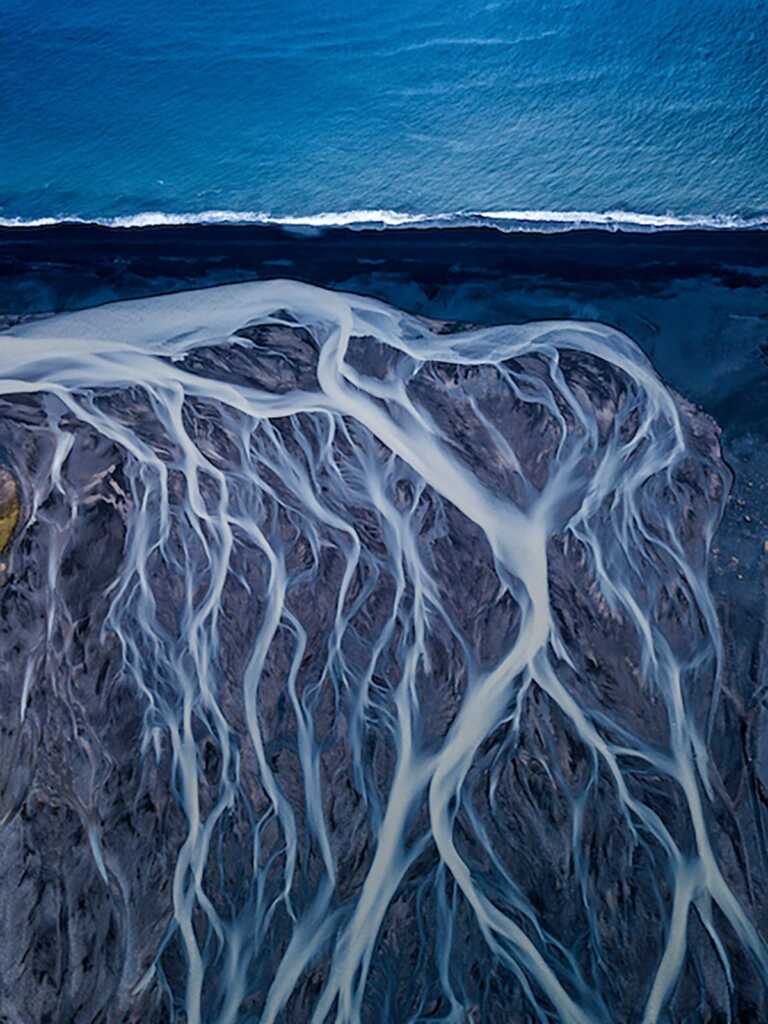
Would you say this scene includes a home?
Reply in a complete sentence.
No, the photo shows no home.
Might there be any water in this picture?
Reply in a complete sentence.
Yes, water shows up in the scene.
